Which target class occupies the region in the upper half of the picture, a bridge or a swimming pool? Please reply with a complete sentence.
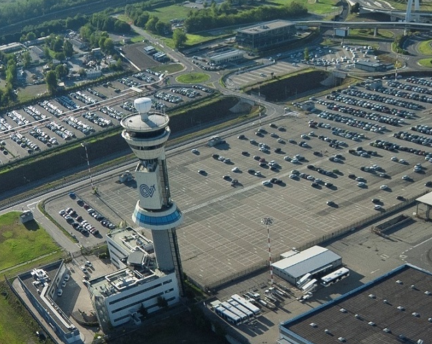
What appears in the upper half of the picture is a bridge.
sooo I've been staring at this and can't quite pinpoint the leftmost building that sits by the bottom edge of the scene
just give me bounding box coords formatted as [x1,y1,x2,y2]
[18,260,82,344]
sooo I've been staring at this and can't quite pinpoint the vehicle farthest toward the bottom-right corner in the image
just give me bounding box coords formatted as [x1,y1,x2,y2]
[320,265,349,284]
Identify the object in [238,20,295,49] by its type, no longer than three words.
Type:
building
